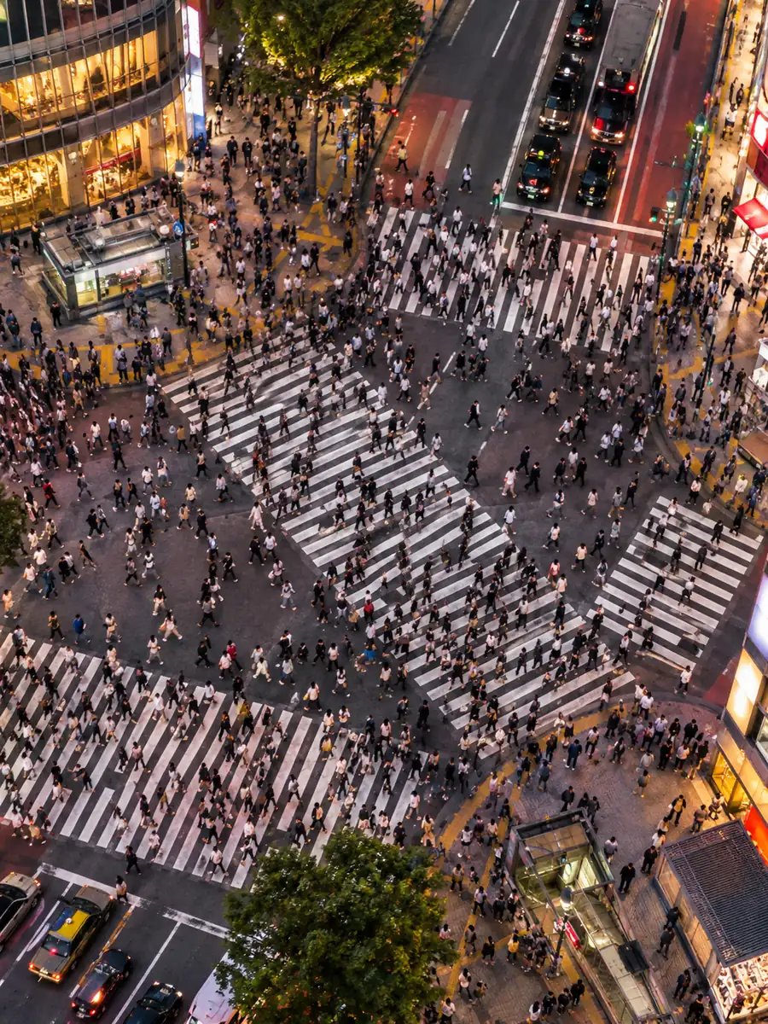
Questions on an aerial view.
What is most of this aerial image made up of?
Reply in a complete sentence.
The bulk of the photo consists of paved ground.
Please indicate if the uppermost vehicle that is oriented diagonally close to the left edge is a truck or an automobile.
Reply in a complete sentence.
The uppermost vehicle that is oriented diagonally close to the left edge is an automobile.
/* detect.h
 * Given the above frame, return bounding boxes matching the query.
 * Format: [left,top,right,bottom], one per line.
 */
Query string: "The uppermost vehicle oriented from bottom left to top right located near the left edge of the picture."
[23,885,112,982]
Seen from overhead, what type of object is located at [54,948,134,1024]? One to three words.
car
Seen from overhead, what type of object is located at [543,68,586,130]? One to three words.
car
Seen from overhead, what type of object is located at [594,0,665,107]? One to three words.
bus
